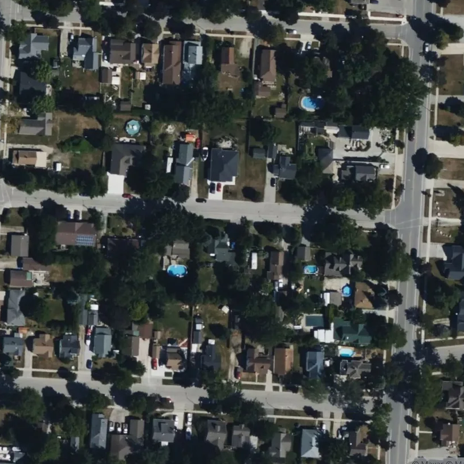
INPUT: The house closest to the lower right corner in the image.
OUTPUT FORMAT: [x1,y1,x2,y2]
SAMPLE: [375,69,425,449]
[440,423,460,445]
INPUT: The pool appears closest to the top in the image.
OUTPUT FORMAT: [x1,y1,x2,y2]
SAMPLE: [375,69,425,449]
[297,95,325,111]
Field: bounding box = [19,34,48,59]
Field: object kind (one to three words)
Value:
house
